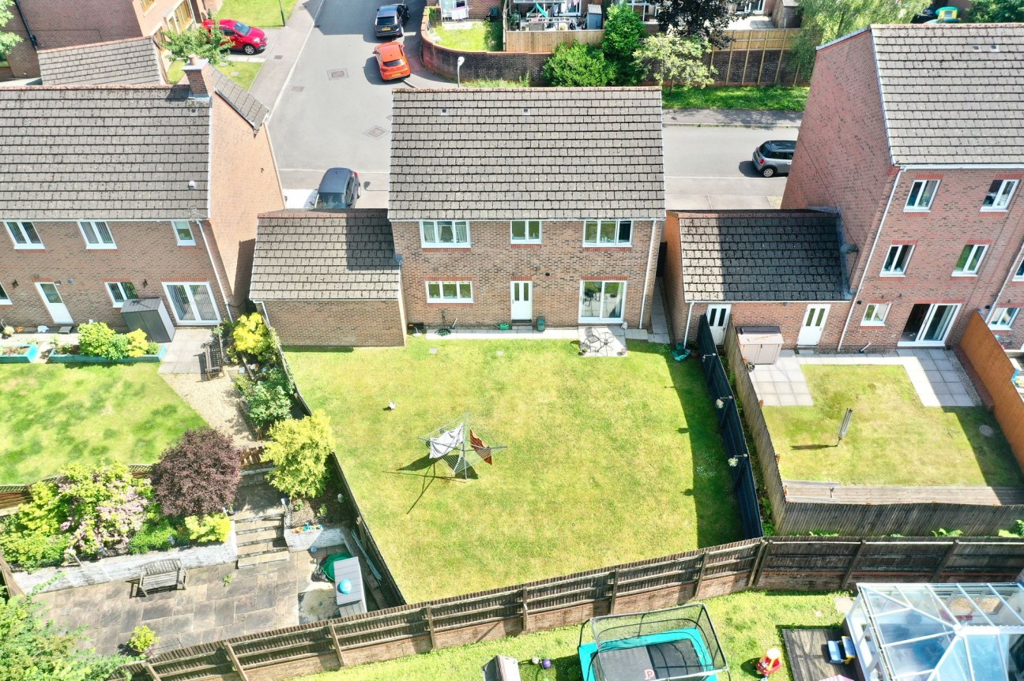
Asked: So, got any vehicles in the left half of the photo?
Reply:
Yes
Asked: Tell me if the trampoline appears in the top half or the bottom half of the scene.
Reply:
bottom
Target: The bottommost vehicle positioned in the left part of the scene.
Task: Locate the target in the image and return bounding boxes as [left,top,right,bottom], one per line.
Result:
[311,166,361,214]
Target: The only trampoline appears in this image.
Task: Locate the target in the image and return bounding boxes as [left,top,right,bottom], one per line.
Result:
[578,605,723,681]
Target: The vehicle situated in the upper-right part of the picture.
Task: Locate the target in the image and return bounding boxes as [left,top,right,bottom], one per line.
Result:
[752,134,799,173]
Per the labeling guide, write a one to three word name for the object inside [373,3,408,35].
car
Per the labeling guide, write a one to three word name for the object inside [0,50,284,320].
house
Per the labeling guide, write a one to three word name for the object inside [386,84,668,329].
house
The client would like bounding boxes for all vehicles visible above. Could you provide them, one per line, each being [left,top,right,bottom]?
[373,3,408,35]
[311,166,361,214]
[376,41,413,76]
[752,134,799,173]
[195,16,270,51]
